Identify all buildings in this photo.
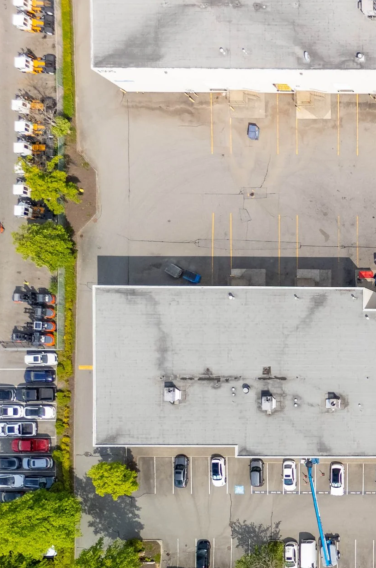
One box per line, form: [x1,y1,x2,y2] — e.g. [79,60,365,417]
[91,0,376,94]
[92,285,376,458]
